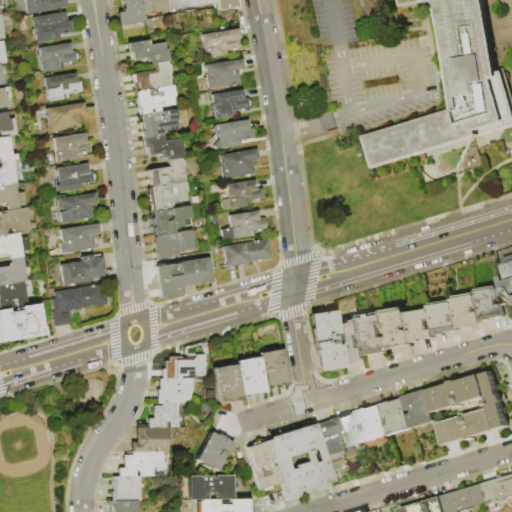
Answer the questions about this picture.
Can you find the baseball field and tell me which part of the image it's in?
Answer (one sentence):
You can find the baseball field in the bottom left area of the picture.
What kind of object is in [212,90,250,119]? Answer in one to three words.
house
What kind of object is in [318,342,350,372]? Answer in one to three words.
building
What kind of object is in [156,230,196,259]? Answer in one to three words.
house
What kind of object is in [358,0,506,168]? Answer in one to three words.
building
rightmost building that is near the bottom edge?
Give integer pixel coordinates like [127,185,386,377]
[479,474,512,504]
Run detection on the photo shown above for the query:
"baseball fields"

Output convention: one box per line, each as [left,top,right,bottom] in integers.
[0,414,50,478]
